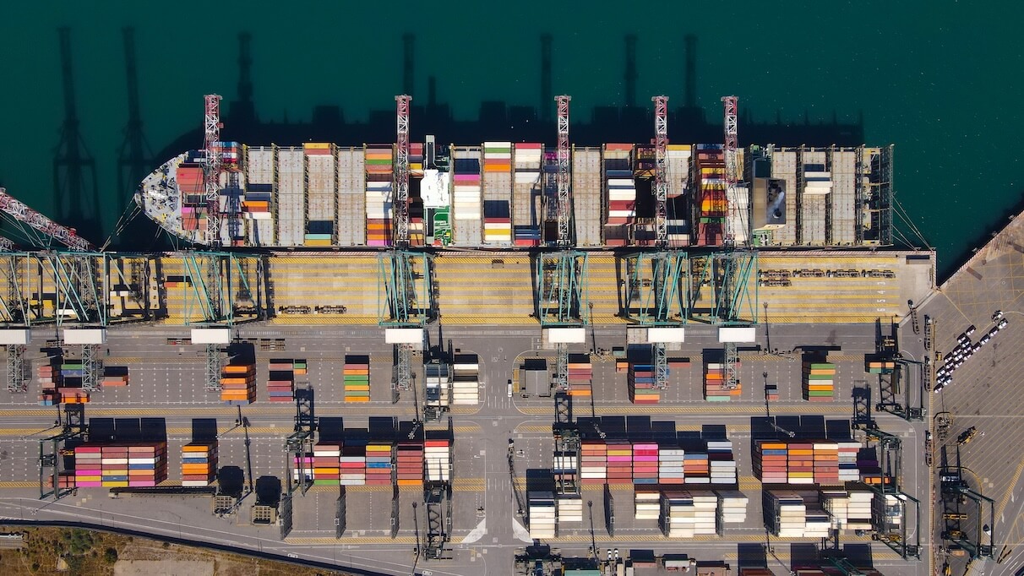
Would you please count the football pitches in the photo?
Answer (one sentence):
The photo contains no football pitches.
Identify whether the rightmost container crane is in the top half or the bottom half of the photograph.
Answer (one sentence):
Seen from above, the rightmost container crane lies in the bottom half of the view.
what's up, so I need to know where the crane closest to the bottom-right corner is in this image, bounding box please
[946,492,999,564]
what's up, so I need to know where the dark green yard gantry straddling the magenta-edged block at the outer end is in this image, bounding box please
[37,429,89,497]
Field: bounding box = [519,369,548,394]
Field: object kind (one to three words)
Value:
shed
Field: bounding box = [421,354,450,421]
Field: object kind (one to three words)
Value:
container crane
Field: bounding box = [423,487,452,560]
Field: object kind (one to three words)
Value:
container crane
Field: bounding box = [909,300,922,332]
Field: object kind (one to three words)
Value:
vehicle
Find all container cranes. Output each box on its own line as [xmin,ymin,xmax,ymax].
[285,425,321,496]
[421,354,450,421]
[876,486,923,558]
[175,94,278,395]
[677,92,757,393]
[0,233,107,395]
[529,93,587,393]
[556,424,584,495]
[856,423,901,494]
[879,356,926,420]
[37,429,89,497]
[378,94,445,394]
[423,487,452,560]
[946,492,999,564]
[613,93,685,393]
[0,192,171,395]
